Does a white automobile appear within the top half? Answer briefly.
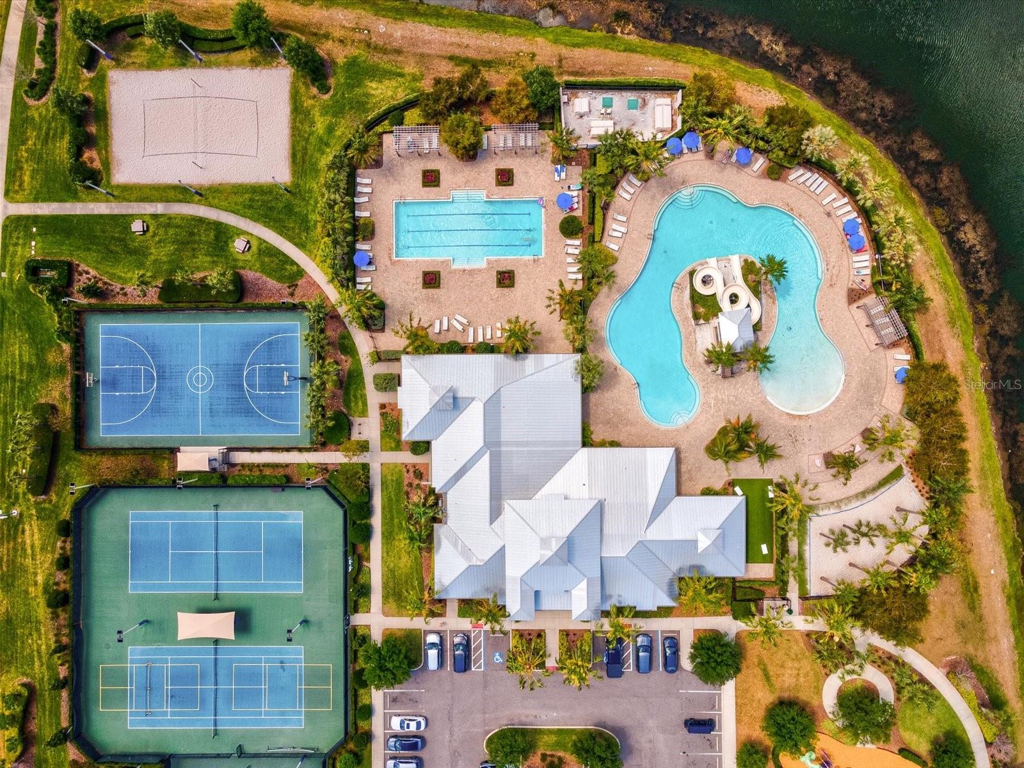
No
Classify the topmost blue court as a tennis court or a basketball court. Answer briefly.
basketball court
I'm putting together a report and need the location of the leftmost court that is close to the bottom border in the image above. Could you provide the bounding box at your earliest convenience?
[81,491,349,768]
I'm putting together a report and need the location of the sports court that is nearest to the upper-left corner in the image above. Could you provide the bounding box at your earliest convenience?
[109,68,291,185]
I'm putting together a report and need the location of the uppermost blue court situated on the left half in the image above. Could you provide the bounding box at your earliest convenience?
[84,311,311,447]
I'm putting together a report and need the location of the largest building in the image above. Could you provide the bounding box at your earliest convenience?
[397,354,745,621]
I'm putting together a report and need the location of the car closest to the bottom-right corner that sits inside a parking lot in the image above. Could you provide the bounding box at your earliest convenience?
[682,716,715,736]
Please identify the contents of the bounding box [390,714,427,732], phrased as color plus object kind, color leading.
white car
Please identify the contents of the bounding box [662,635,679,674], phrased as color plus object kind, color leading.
blue car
